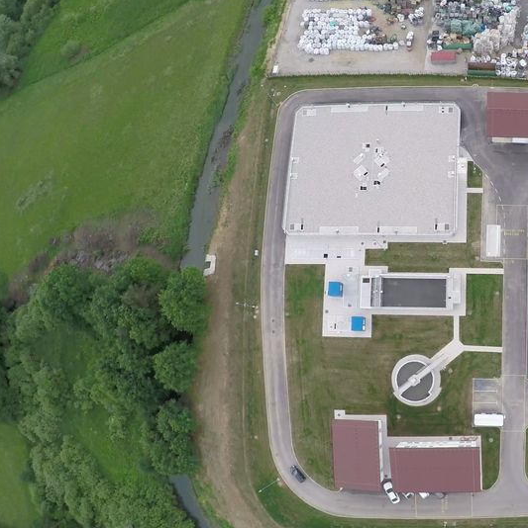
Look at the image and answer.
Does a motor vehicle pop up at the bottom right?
Yes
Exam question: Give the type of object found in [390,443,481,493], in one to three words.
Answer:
building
